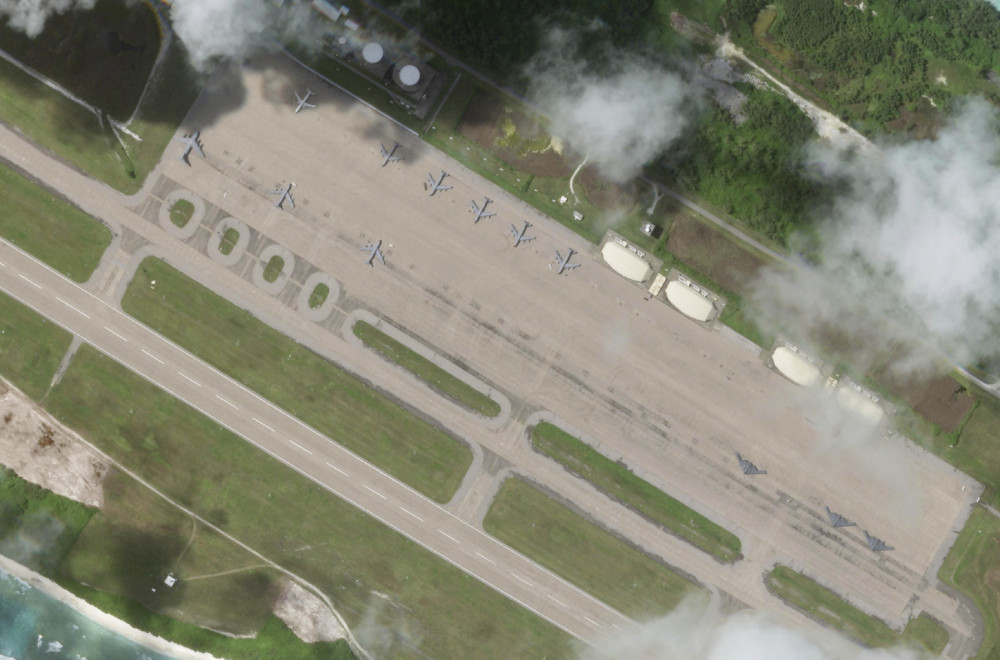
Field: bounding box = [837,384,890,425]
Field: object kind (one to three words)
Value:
hangar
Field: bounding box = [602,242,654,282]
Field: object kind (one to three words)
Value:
hangar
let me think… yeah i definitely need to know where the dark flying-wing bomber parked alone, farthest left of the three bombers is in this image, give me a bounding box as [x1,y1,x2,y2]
[737,452,767,474]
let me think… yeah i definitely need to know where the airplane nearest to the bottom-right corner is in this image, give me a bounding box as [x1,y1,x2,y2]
[864,529,896,551]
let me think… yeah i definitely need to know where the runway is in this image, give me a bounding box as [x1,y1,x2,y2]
[0,237,697,660]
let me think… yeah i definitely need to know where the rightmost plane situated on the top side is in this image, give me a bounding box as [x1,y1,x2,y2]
[557,249,580,273]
